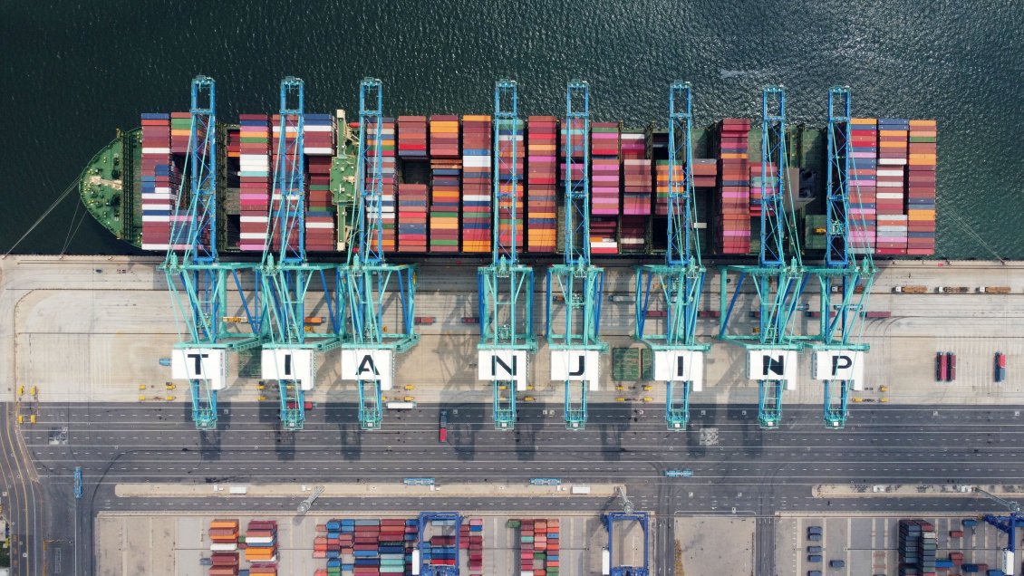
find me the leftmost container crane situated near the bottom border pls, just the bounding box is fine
[412,511,467,576]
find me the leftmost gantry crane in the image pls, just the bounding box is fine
[157,74,281,429]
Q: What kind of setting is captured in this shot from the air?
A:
port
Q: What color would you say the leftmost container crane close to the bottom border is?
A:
blue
